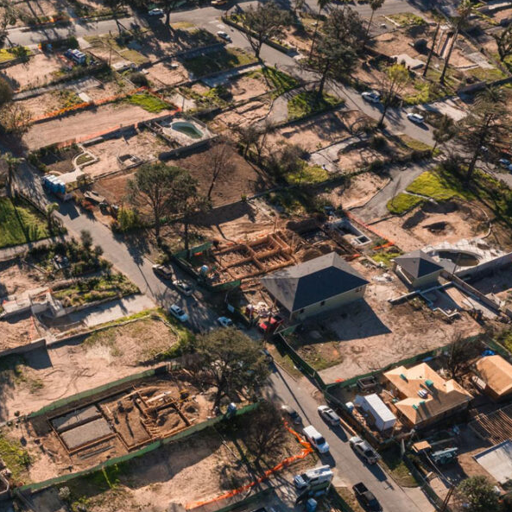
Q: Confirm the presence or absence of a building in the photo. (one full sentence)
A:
Yes, the frame does contain a building.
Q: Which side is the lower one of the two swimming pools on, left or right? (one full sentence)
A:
The lower one of the two swimming pools appears in the right half of the scene.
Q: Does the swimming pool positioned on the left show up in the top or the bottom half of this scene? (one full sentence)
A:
The swimming pool positioned on the left sits in the top half of the picture.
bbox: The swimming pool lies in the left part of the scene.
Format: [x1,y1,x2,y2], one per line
[161,115,210,142]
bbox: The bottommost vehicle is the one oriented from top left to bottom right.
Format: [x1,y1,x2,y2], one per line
[346,478,389,512]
